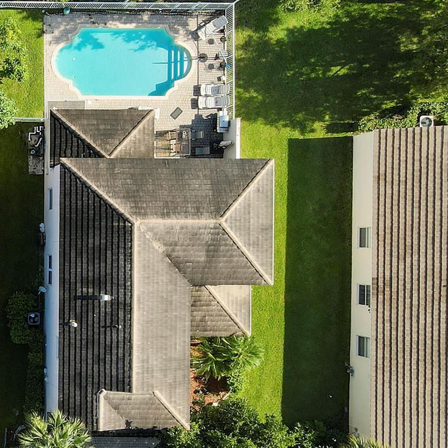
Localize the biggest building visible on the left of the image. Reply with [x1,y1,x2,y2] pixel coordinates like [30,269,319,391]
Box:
[42,99,276,435]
